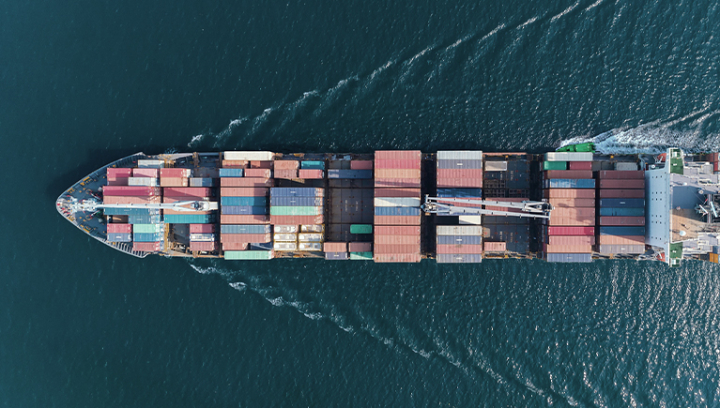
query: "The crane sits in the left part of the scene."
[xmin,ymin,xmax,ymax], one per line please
[94,198,221,214]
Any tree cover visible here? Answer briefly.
No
